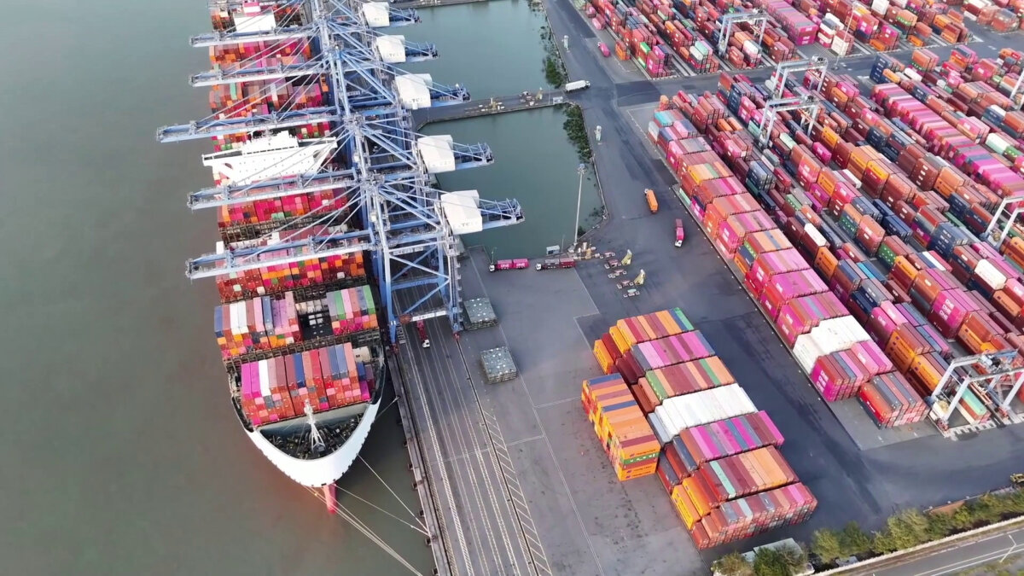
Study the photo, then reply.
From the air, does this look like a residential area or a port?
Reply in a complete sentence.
What you see here is a port.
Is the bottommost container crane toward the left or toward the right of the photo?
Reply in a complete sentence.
The bottommost container crane is on the right side of the image.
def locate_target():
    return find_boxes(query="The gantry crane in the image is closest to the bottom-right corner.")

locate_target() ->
[922,338,1024,434]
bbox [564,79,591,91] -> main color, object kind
white vehicle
